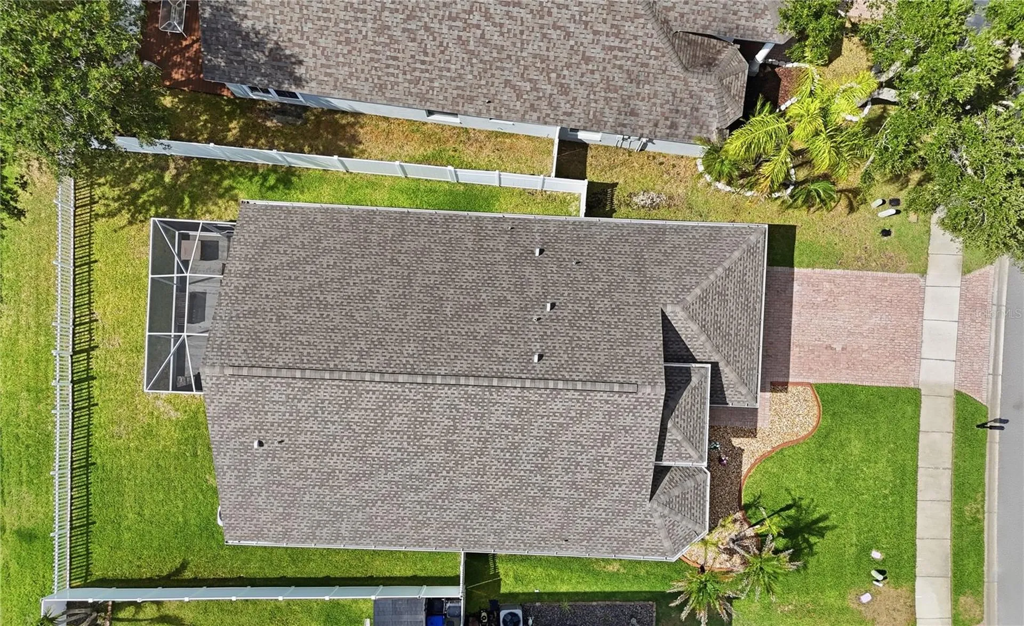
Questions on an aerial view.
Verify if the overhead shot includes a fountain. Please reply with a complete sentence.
No, there's no fountain here.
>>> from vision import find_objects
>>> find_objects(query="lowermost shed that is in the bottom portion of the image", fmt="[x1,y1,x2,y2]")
[375,597,427,626]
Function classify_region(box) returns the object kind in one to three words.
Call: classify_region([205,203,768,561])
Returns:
house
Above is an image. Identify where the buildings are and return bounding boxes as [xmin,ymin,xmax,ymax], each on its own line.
[375,597,427,626]
[205,203,768,561]
[201,0,793,158]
